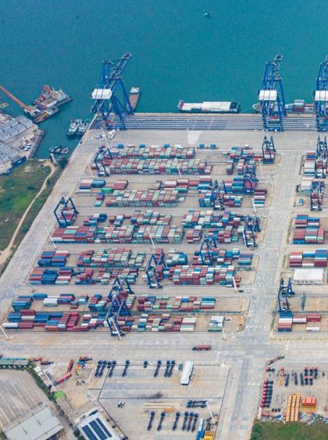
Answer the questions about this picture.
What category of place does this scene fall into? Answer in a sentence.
The area seen from above is a port.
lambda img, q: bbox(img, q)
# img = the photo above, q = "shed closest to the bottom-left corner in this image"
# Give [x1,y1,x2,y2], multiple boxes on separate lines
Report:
[3,402,66,440]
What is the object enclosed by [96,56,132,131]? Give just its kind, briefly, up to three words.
container crane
